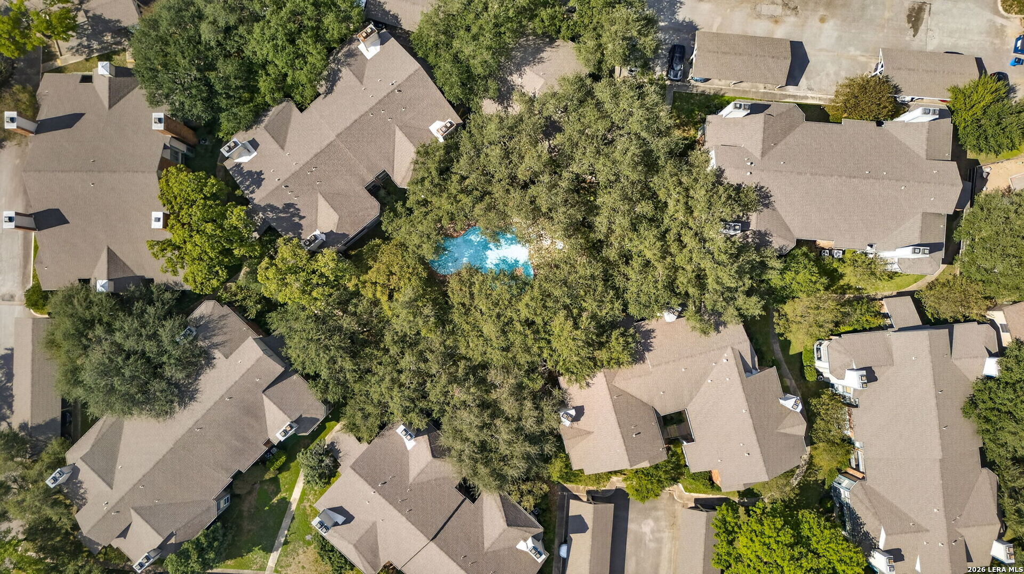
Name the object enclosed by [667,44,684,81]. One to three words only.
car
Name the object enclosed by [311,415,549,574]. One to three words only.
house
